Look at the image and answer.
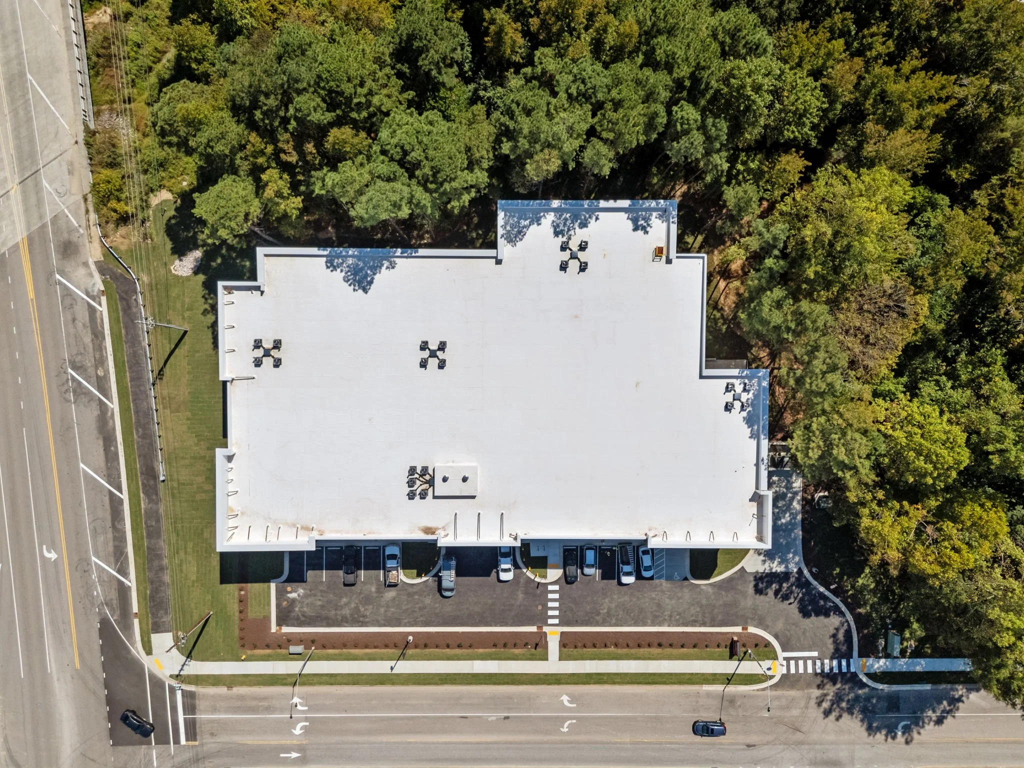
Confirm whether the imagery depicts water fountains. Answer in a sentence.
No, no water fountain is visible in the view.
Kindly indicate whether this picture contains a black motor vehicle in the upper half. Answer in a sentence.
No, no black motor vehicle appears in the upper half.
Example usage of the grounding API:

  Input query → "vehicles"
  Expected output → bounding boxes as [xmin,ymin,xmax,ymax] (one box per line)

[693,722,728,741]
[439,558,457,598]
[619,543,638,585]
[117,712,153,739]
[639,546,656,579]
[582,545,598,577]
[383,545,400,586]
[563,551,579,584]
[497,547,514,583]
[340,546,357,586]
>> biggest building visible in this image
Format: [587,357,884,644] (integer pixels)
[216,199,772,551]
